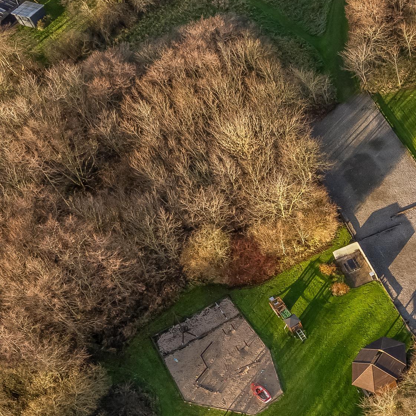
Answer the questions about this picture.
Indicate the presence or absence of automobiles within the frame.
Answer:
No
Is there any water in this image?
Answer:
No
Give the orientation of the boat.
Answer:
on a diagonal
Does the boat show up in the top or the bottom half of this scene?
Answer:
bottom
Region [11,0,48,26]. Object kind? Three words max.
shed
